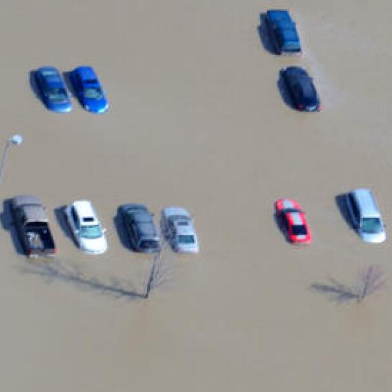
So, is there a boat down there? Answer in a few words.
No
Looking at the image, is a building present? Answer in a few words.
No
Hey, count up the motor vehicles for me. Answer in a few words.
10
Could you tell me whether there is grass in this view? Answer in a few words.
No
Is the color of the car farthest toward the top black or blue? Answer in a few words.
blue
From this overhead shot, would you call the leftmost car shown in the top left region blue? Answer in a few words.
Yes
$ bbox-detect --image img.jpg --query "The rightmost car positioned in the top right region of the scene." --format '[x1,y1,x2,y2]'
[288,69,325,111]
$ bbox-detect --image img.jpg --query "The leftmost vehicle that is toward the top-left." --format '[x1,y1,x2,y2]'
[37,65,71,113]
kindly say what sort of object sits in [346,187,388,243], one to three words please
car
